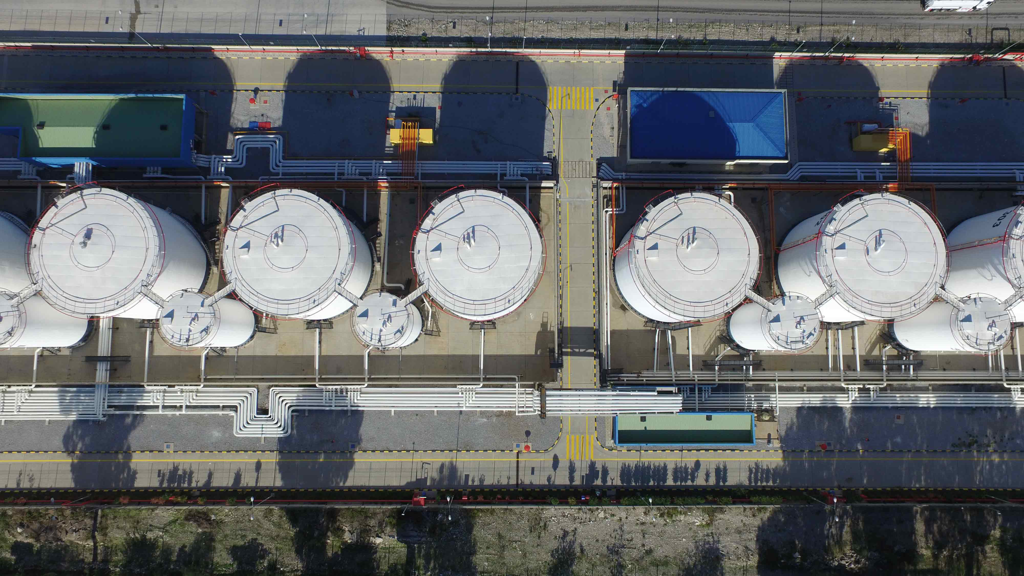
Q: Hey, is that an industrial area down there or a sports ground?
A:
industrial area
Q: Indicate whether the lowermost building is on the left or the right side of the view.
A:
right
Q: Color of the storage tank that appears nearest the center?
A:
white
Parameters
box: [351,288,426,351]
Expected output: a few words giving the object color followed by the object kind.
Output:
white storage tank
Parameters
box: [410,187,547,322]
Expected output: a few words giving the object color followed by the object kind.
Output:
white storage tank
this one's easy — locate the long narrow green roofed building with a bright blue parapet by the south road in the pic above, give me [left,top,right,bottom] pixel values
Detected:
[612,410,756,446]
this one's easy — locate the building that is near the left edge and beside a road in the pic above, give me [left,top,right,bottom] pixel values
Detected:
[0,94,207,165]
